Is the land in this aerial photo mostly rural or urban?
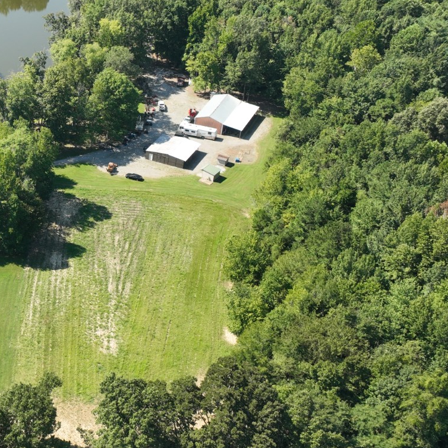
rural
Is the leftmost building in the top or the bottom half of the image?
top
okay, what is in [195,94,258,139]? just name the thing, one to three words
barn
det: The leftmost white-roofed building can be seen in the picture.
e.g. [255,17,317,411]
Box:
[146,134,198,168]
